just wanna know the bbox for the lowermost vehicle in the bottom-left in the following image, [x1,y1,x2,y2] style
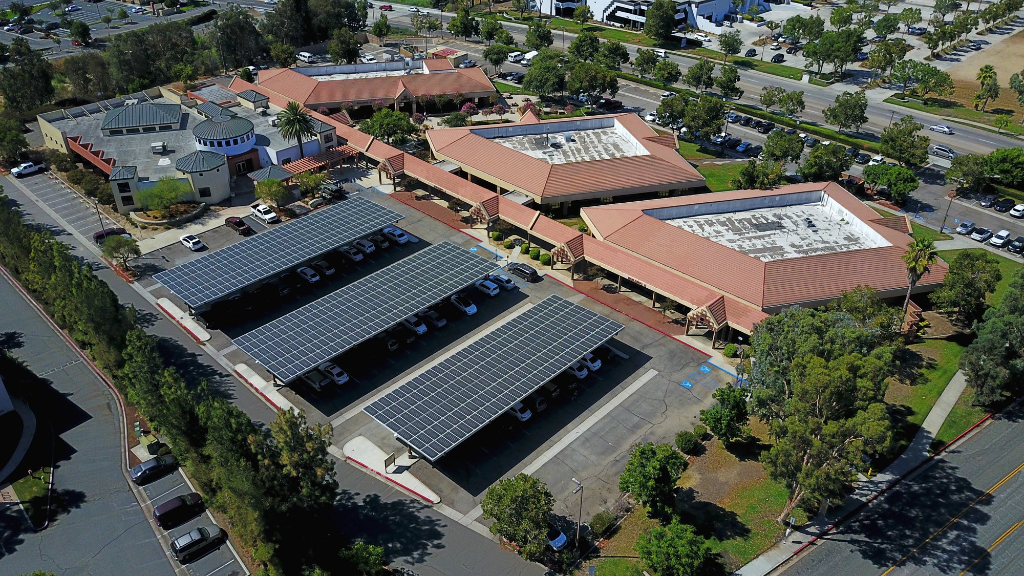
[168,529,228,565]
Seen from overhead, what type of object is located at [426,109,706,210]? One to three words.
building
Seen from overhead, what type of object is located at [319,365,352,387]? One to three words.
car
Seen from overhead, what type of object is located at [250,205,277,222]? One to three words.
vehicle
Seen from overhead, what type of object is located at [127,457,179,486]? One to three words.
car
